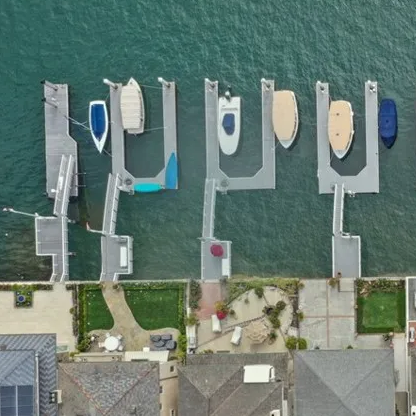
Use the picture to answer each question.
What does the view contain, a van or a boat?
boat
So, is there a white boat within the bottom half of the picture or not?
No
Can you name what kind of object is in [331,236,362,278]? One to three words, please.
pier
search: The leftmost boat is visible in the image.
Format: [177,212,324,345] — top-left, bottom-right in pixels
[70,101,114,157]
